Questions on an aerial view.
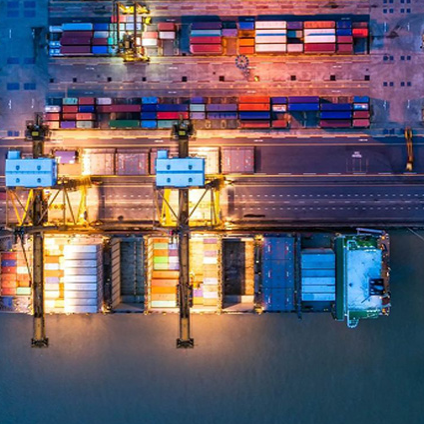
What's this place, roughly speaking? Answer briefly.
port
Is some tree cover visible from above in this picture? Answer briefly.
No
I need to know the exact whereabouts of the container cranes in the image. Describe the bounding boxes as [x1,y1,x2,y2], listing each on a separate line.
[4,114,102,348]
[112,2,155,64]
[146,112,239,347]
